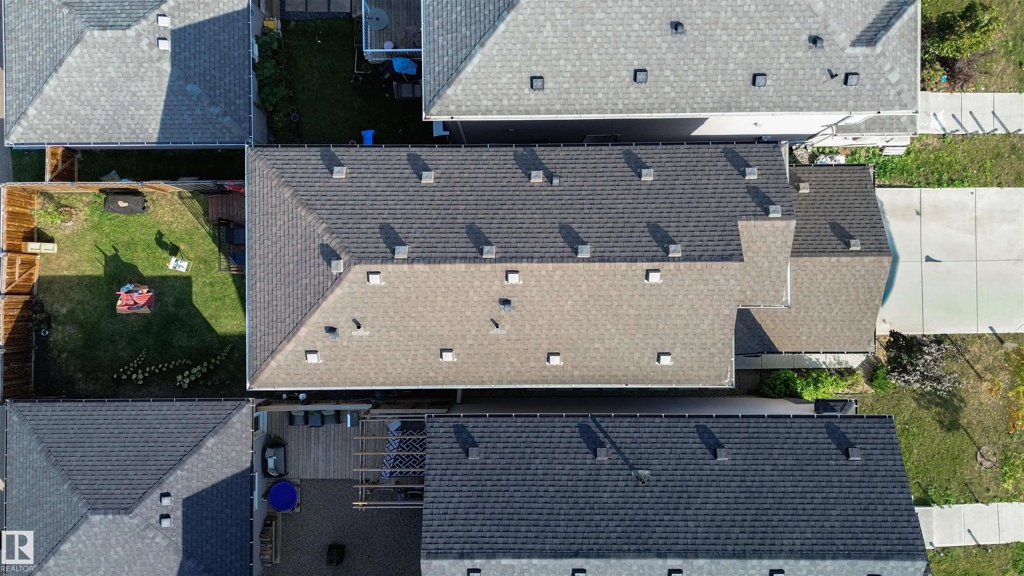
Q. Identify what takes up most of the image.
buildings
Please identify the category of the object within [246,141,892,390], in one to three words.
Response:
house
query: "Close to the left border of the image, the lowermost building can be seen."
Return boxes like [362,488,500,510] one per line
[5,398,270,576]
